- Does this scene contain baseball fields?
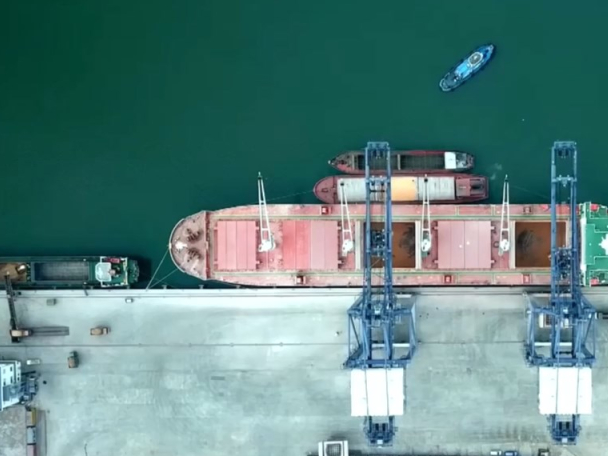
No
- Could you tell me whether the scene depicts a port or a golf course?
port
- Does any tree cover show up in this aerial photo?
No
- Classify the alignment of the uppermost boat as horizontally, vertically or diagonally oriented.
diagonally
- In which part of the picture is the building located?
bottom left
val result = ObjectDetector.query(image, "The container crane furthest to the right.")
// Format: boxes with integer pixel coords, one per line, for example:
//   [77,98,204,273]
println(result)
[521,143,595,445]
